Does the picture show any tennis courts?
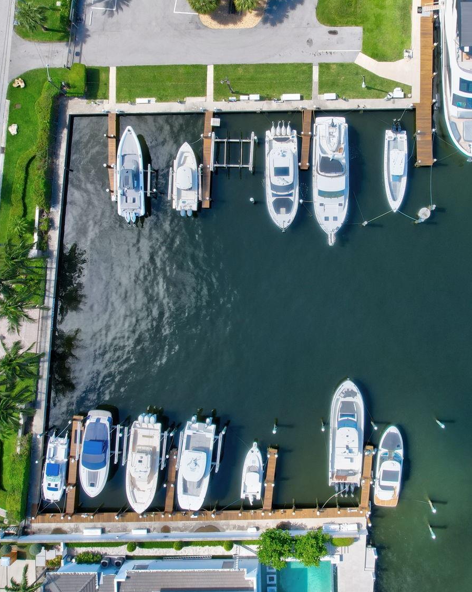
No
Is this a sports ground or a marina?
marina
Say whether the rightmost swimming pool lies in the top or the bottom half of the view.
bottom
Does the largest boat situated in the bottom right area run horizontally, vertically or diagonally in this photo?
vertically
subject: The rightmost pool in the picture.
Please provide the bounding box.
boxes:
[276,560,332,592]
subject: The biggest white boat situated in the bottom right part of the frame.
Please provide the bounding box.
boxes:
[329,376,364,496]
